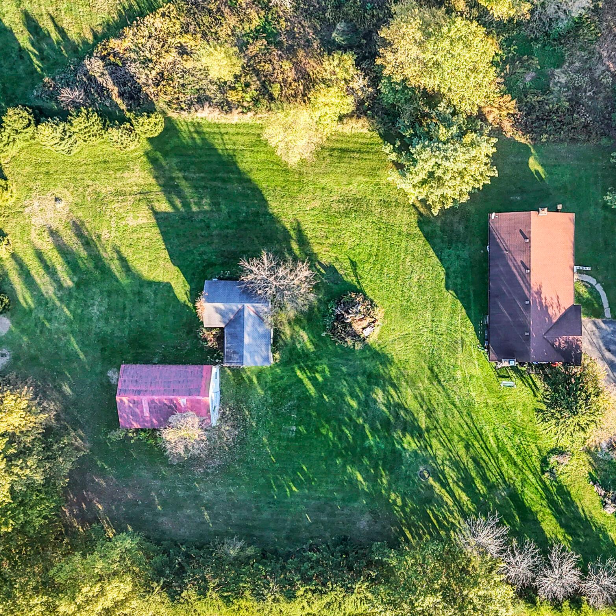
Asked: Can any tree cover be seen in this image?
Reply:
Yes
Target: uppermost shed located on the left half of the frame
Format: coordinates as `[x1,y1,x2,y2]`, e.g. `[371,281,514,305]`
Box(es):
[200,280,278,367]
